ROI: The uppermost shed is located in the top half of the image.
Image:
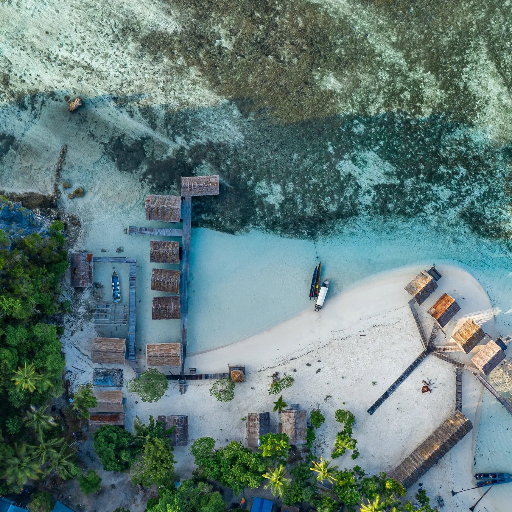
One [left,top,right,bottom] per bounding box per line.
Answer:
[181,175,221,197]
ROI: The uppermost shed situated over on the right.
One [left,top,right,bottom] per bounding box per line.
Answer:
[404,270,438,306]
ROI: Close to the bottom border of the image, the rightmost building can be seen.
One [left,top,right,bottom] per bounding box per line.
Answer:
[386,407,476,492]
